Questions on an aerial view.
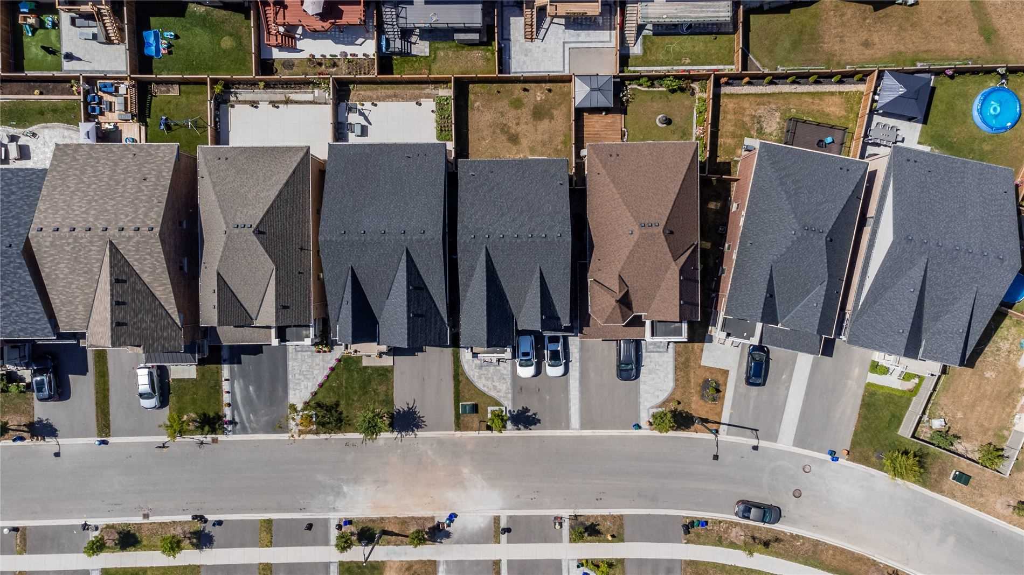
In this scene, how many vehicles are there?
7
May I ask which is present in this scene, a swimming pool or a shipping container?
swimming pool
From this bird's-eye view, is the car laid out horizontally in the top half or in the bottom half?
bottom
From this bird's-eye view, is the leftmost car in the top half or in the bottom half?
bottom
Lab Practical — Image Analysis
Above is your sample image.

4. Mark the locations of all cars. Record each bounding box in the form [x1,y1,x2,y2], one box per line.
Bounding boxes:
[616,340,639,381]
[733,498,781,526]
[515,334,537,377]
[31,354,61,403]
[136,365,162,409]
[745,343,769,387]
[544,334,566,377]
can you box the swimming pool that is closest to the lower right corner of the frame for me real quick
[1001,272,1024,305]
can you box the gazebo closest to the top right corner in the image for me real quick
[869,71,932,122]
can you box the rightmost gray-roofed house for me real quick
[823,144,1021,376]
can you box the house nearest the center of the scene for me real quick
[457,158,575,363]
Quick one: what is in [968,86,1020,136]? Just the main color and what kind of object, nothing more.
blue swimming pool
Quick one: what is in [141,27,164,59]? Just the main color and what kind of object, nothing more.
blue swimming pool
